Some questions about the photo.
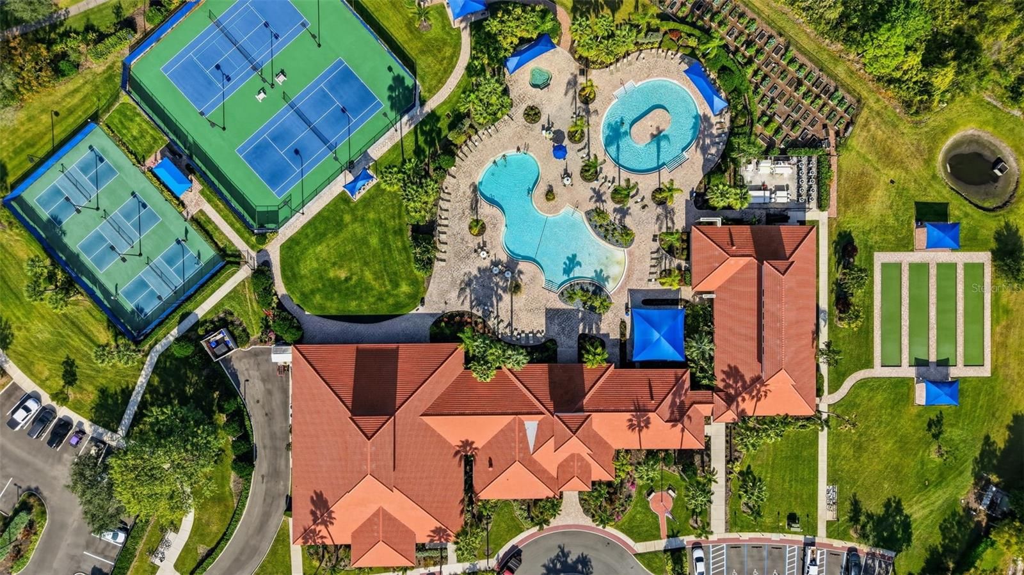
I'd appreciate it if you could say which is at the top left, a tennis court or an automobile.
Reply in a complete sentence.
You can see a tennis court at the top left.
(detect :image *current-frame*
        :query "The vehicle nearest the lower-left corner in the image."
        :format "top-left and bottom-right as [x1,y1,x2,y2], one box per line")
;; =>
[97,528,127,547]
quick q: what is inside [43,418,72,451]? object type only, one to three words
truck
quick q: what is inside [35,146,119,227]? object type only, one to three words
sports court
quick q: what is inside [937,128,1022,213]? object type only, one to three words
pond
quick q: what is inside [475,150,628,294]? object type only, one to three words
swimming pool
